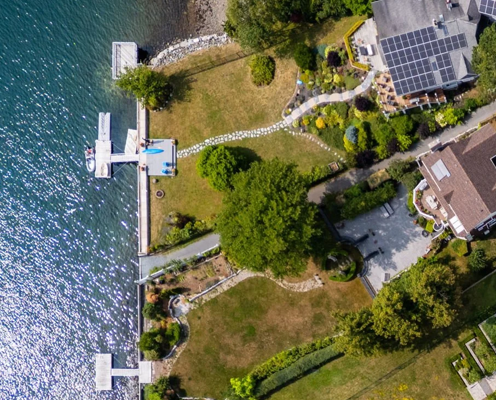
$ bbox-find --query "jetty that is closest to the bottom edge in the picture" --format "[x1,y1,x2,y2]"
[95,354,153,390]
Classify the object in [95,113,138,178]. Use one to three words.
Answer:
pier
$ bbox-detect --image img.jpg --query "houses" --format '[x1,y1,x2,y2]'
[342,0,496,116]
[412,125,496,240]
